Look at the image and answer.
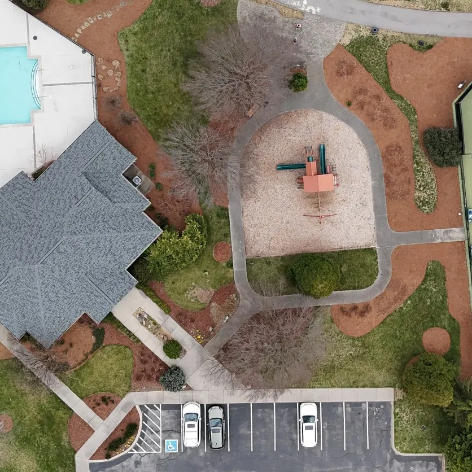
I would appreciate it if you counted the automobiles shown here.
3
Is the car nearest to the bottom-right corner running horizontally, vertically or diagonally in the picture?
vertically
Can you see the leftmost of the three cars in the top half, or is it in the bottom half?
bottom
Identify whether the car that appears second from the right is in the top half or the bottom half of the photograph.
bottom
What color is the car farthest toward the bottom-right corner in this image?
white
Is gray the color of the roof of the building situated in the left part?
Yes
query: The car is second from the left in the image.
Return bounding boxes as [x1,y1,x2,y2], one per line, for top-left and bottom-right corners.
[206,405,226,451]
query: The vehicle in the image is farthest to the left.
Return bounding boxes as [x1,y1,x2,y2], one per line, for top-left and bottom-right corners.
[181,401,202,448]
